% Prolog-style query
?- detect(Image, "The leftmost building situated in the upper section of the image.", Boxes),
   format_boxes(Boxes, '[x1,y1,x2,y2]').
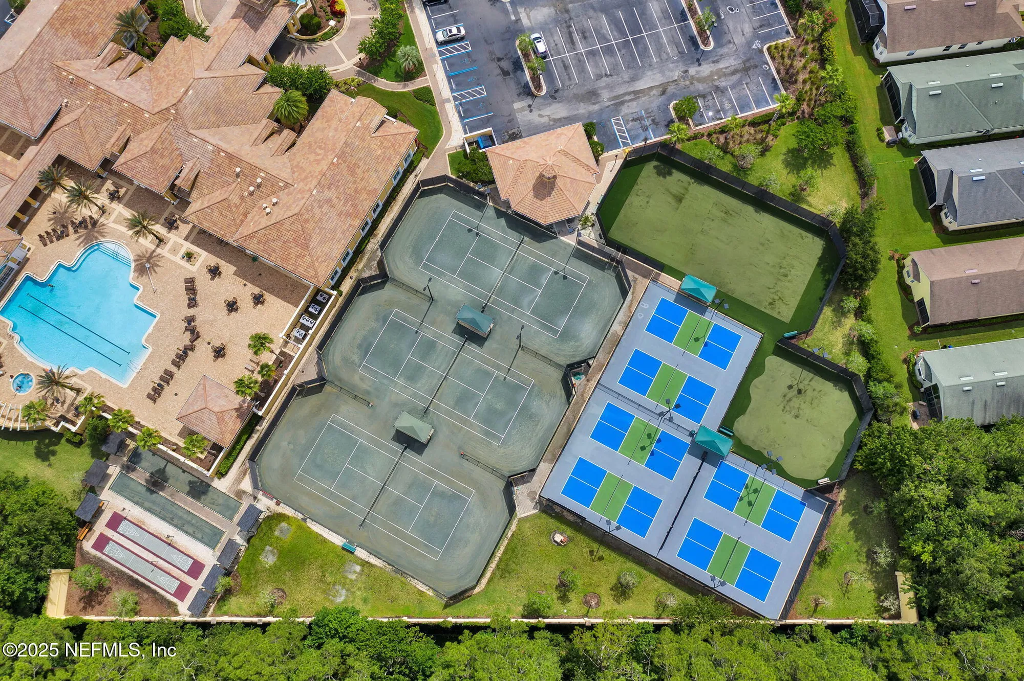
[0,230,29,290]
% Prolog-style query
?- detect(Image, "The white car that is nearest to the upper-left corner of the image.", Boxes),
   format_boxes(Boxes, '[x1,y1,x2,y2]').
[436,27,466,43]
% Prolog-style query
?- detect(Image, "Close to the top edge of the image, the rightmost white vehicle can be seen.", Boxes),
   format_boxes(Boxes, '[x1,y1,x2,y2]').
[530,33,549,57]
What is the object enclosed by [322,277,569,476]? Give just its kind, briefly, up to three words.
tennis court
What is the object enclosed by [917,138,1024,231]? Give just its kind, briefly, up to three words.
house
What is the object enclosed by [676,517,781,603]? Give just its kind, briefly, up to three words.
sports court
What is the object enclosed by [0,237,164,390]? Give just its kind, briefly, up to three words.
swimming pool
